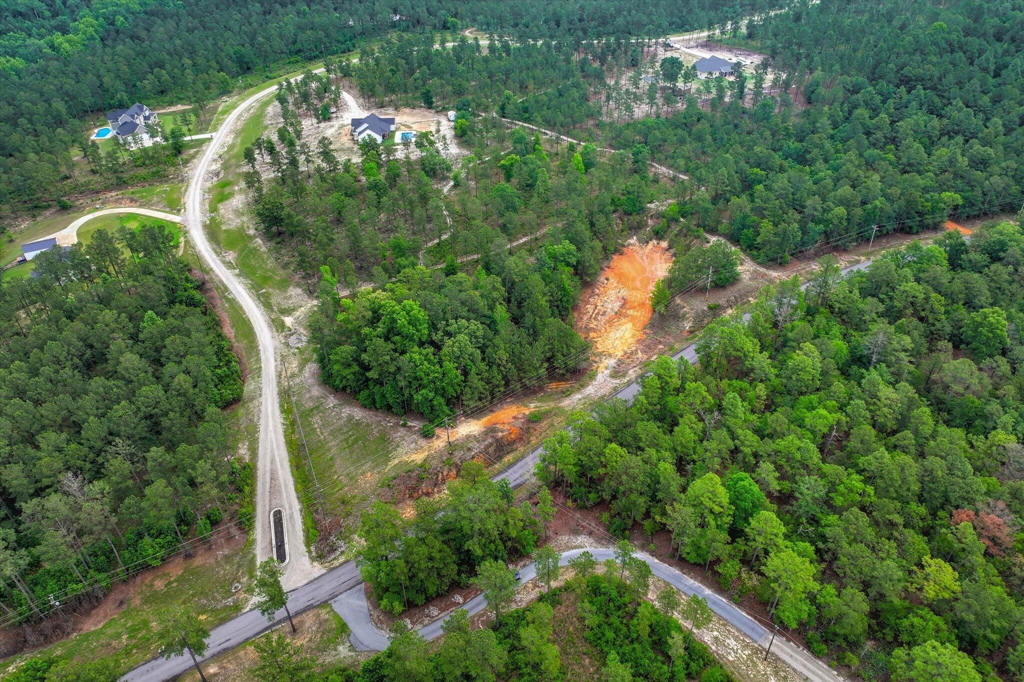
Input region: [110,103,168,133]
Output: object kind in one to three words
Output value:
house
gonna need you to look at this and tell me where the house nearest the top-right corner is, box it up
[681,57,735,80]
